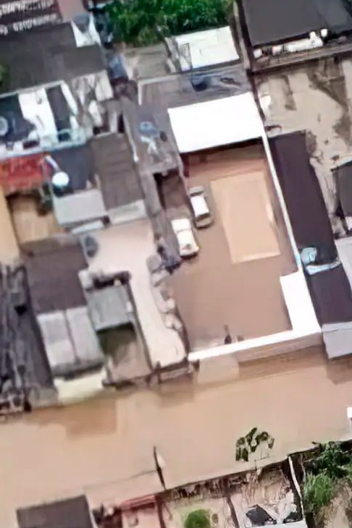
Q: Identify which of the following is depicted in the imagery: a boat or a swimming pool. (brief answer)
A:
swimming pool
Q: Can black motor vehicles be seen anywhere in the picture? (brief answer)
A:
No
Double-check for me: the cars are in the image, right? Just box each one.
[170,220,201,265]
[188,189,216,231]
